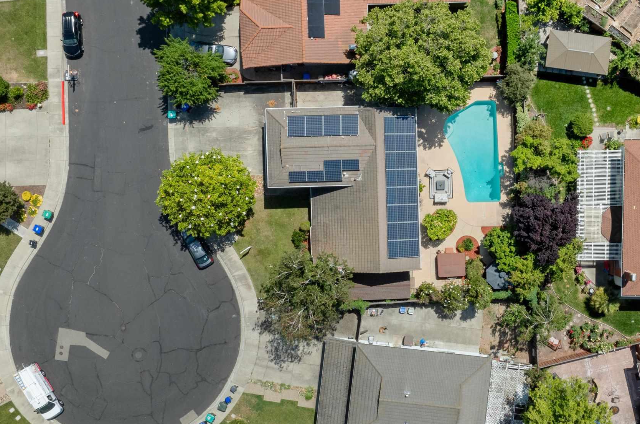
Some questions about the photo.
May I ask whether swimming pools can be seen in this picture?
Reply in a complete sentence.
Yes, you can see a swimming pool in this photo.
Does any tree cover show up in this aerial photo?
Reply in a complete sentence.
Yes, there is tree cover in the image.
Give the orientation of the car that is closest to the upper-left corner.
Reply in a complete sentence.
Seen from above, the car that is closest to the upper-left corner lies vertically.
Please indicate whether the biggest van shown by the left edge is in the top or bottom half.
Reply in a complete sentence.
The biggest van shown by the left edge is in the bottom half of the image.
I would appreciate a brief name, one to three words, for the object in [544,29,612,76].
gazebo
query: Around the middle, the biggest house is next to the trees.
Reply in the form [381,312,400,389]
[265,106,421,301]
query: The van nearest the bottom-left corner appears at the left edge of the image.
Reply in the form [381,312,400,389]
[15,361,68,423]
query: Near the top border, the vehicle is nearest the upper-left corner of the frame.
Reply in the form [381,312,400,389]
[61,10,89,61]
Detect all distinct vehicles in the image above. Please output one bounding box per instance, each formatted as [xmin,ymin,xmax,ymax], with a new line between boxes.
[61,10,89,61]
[197,41,242,67]
[15,361,68,423]
[177,228,216,273]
